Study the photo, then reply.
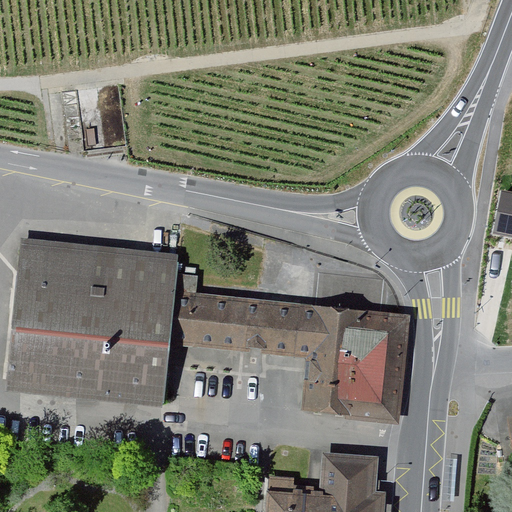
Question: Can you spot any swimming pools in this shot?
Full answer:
No, there is no swimming pool in the image.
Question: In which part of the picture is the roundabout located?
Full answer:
Look in the right portion of the view to spot the roundabout.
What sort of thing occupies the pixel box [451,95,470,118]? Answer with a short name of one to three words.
car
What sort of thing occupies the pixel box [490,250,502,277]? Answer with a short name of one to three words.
vehicle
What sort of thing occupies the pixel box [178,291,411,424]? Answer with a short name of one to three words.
building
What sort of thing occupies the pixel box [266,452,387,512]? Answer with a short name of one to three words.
house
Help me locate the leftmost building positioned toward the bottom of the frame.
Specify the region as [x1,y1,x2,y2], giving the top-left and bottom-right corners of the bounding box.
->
[6,238,180,408]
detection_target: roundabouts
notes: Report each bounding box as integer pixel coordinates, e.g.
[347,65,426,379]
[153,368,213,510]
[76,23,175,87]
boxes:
[358,152,476,272]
